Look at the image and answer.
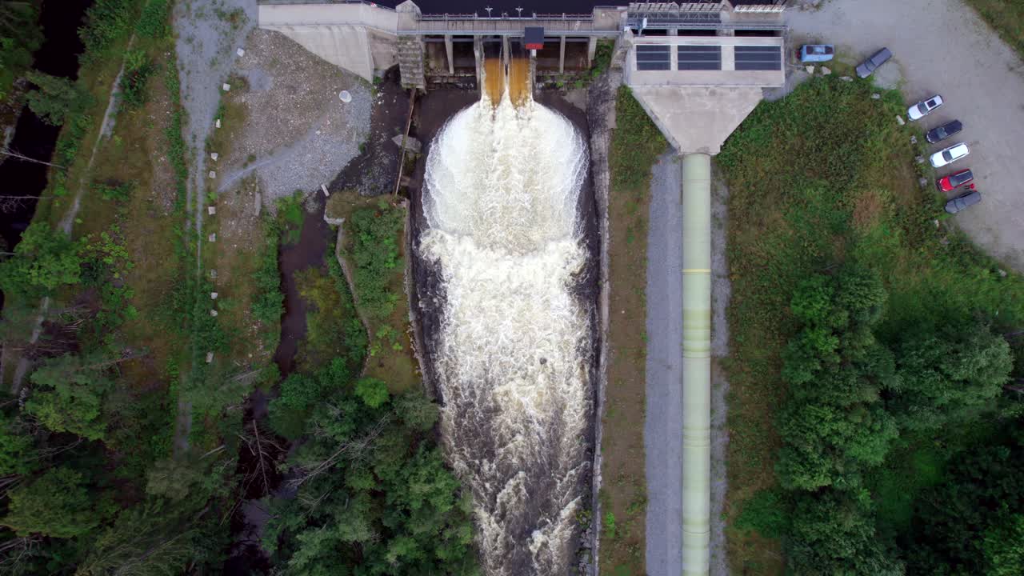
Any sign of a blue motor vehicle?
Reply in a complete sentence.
Yes, there's a blue motor vehicle here.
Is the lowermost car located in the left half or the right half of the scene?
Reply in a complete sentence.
The lowermost car sits on the right side.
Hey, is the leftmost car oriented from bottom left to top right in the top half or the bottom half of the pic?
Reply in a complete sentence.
It is in the top half that the leftmost car oriented from bottom left to top right appears.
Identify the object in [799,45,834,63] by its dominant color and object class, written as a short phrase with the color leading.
blue vehicle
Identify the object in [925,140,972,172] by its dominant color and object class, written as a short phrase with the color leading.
white car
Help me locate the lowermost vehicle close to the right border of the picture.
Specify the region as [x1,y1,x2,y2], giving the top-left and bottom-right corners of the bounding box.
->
[939,189,983,220]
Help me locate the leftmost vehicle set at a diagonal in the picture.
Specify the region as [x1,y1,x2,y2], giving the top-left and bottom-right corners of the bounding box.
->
[851,45,895,81]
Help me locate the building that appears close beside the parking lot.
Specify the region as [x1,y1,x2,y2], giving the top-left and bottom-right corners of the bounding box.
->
[615,0,791,162]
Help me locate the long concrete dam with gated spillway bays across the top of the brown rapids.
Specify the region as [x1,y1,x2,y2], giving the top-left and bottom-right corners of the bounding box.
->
[254,0,622,123]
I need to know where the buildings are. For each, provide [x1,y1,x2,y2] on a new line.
[524,26,544,59]
[615,0,791,162]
